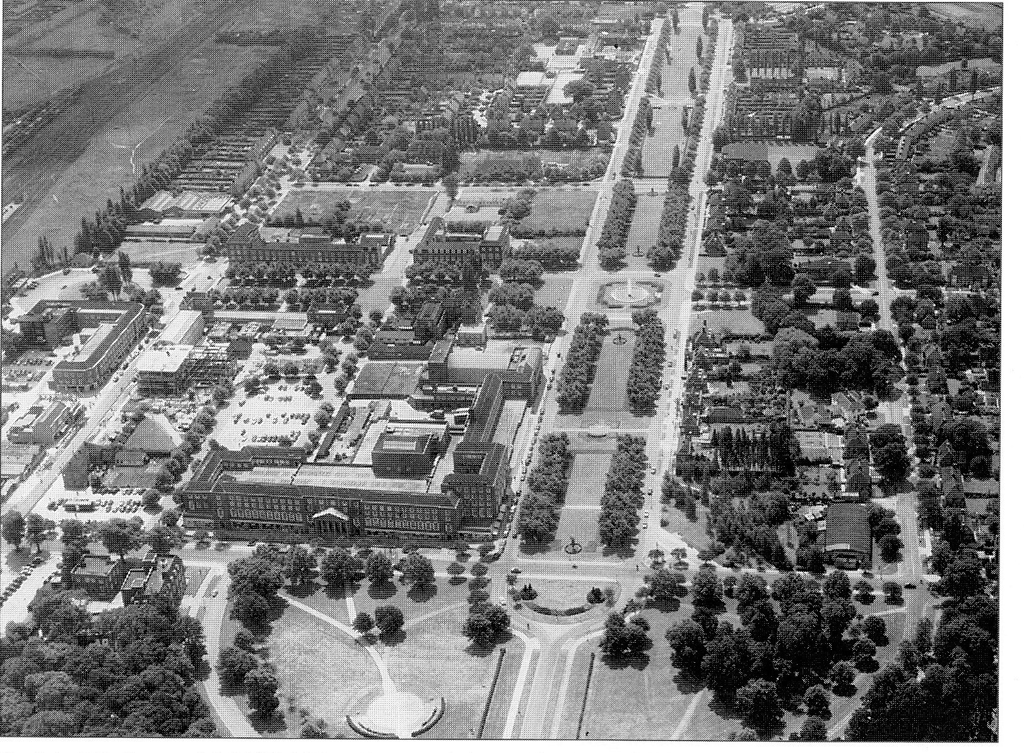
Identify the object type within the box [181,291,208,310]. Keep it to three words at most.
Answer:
building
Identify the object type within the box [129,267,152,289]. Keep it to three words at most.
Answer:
shed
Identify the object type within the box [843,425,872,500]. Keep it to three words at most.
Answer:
building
